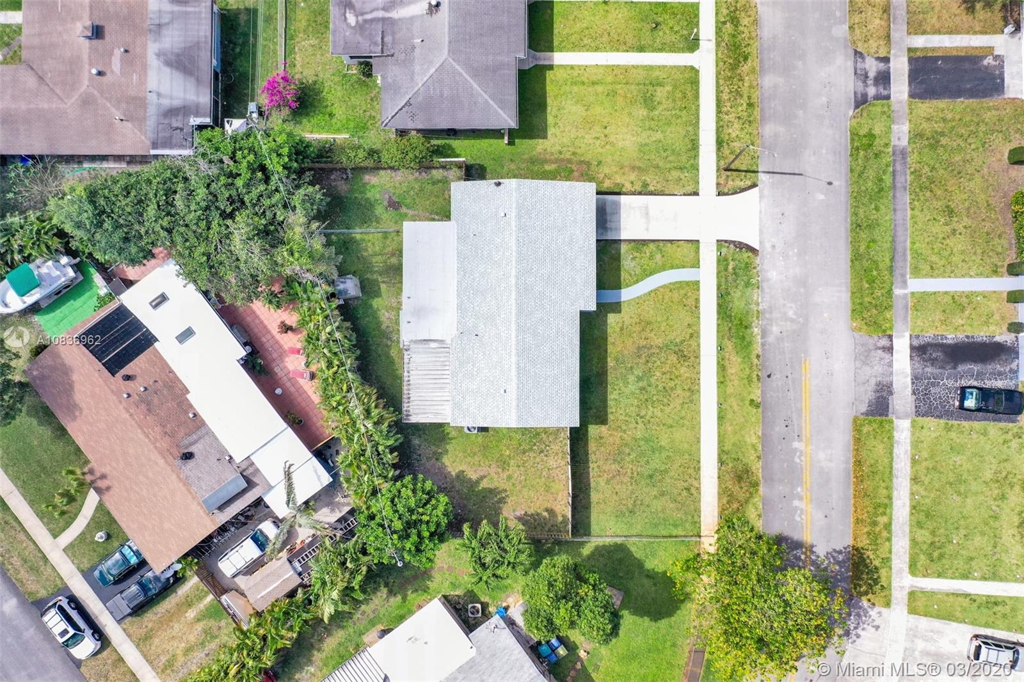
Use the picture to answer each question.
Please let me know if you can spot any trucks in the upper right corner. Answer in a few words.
No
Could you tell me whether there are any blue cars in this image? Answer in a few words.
Yes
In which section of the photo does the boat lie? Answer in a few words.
left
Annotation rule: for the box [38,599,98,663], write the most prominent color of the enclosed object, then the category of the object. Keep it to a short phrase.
white car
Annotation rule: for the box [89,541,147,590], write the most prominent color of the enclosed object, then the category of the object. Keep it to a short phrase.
blue car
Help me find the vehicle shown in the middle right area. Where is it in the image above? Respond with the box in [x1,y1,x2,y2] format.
[958,386,1024,416]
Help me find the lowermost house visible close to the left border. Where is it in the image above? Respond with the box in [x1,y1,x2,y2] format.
[24,259,337,573]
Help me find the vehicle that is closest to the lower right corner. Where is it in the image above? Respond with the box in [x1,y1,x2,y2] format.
[969,641,1024,677]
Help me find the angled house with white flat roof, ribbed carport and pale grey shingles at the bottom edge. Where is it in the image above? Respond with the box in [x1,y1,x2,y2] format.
[322,590,550,682]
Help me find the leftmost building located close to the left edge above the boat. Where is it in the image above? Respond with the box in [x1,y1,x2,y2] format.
[0,0,228,155]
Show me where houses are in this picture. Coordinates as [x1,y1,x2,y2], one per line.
[330,0,526,137]
[399,179,596,428]
[0,0,228,155]
[24,259,337,573]
[322,590,550,682]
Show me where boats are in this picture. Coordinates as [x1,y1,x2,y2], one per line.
[0,251,86,309]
